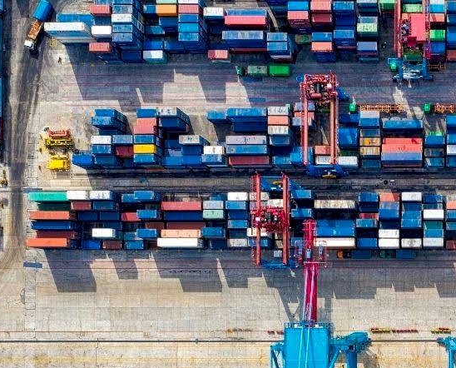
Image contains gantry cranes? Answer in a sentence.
Yes, looking at the shot, I can spot a gantry crane.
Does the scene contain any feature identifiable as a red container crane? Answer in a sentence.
Yes, the image includes a red container crane.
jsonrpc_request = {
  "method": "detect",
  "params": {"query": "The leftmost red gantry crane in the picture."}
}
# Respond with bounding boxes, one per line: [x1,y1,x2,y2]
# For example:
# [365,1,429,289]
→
[251,174,310,267]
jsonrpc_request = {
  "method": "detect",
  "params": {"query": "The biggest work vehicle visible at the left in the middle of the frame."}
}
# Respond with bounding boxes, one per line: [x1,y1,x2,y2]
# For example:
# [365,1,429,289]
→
[41,153,71,175]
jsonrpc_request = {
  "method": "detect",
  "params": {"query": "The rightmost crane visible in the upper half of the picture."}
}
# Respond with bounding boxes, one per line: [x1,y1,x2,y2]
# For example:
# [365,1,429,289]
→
[392,0,438,79]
